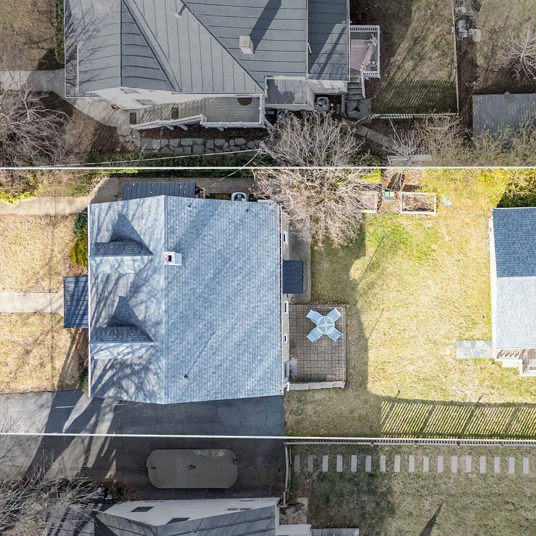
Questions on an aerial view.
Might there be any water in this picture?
No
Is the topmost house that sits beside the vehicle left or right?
left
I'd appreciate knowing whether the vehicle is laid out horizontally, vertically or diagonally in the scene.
horizontally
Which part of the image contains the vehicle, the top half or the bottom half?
bottom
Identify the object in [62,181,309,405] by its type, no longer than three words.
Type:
house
